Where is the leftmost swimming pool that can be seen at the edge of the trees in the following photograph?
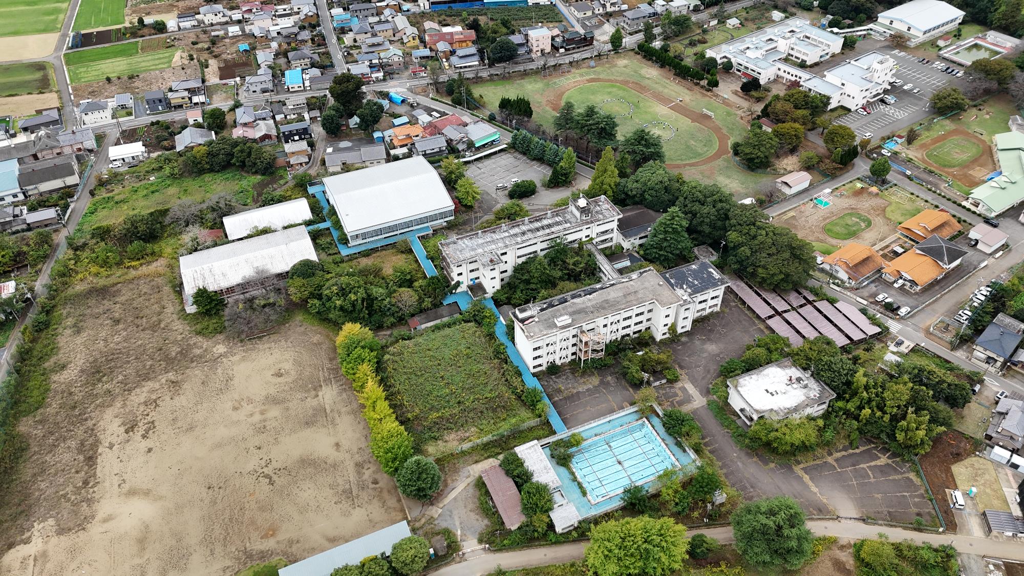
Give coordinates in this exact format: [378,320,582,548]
[539,403,694,536]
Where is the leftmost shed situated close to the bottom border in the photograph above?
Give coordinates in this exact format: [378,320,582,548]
[279,521,413,576]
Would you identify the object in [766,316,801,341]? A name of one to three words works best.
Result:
shed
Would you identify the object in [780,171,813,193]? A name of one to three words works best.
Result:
house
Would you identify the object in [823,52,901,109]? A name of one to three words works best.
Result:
building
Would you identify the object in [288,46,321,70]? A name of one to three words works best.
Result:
house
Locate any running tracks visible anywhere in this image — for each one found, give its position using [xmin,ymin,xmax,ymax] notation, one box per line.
[545,77,738,169]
